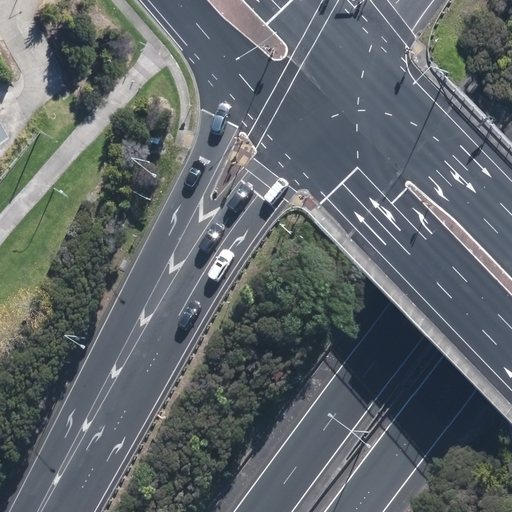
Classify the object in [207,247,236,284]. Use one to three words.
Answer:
car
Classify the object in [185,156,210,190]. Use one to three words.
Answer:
car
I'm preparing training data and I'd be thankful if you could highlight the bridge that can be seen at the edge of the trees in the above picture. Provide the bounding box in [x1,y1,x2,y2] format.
[350,73,512,424]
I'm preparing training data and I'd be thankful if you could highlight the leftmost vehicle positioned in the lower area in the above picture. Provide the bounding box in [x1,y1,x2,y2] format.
[178,299,204,332]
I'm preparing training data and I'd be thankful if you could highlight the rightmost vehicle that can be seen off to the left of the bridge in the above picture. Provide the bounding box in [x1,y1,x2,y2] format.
[263,176,289,206]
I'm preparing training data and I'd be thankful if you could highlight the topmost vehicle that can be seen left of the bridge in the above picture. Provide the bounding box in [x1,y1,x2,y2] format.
[210,102,232,137]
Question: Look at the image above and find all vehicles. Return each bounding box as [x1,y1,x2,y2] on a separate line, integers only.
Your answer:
[207,247,236,284]
[178,299,204,332]
[263,176,289,206]
[210,102,232,137]
[198,220,227,256]
[226,180,256,216]
[185,156,210,190]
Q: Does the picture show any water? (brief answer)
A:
No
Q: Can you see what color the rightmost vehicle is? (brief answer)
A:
white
